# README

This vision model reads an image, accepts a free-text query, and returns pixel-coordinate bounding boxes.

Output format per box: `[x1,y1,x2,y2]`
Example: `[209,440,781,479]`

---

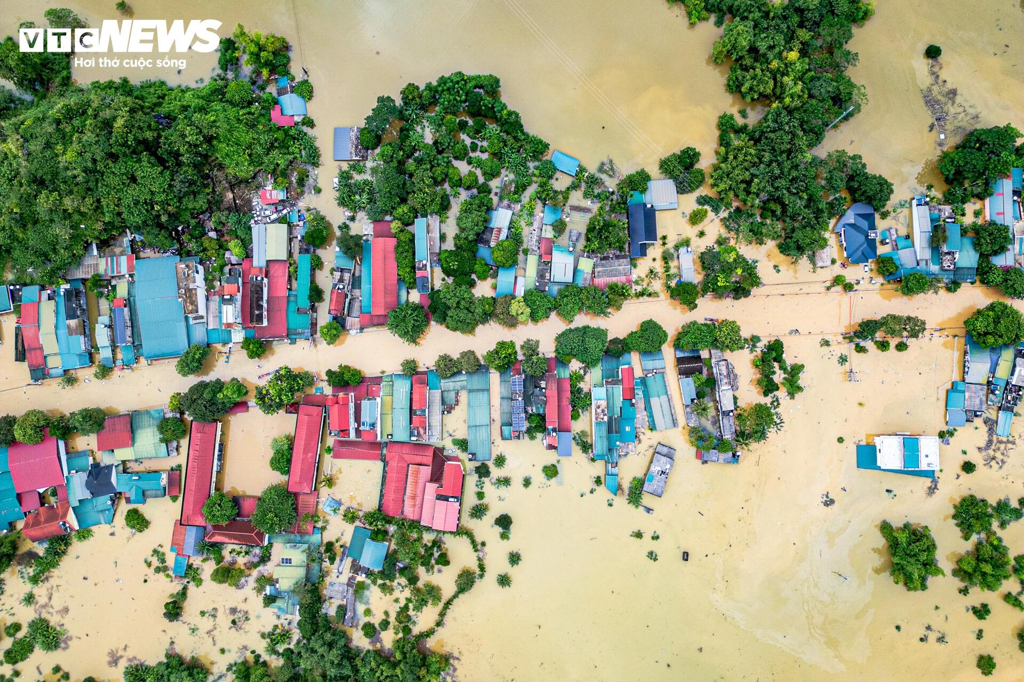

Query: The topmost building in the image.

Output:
[271,76,309,128]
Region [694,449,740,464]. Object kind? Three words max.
shed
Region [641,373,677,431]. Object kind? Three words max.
house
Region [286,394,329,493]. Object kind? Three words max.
building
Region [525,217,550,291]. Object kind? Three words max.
house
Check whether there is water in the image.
Yes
